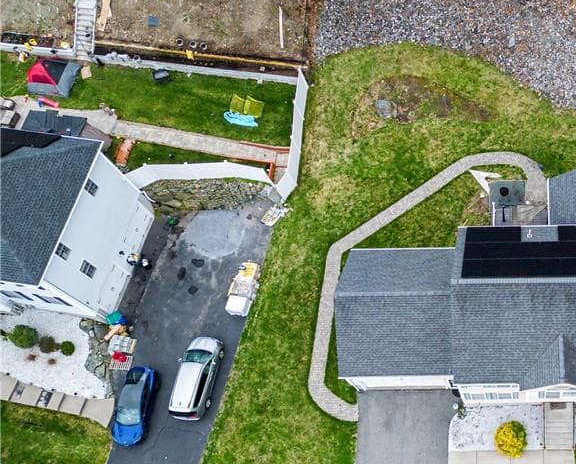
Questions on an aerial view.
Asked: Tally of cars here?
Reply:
2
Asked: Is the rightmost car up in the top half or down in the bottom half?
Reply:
bottom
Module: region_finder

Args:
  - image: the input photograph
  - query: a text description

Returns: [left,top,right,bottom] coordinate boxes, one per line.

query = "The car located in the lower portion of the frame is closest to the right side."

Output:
[171,337,228,421]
